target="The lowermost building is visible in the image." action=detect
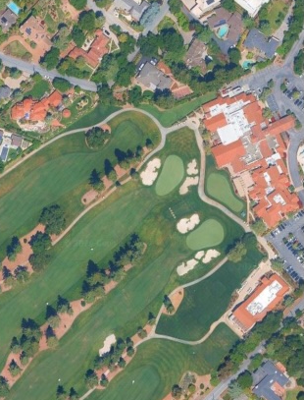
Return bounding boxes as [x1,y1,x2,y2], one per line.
[249,358,289,400]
